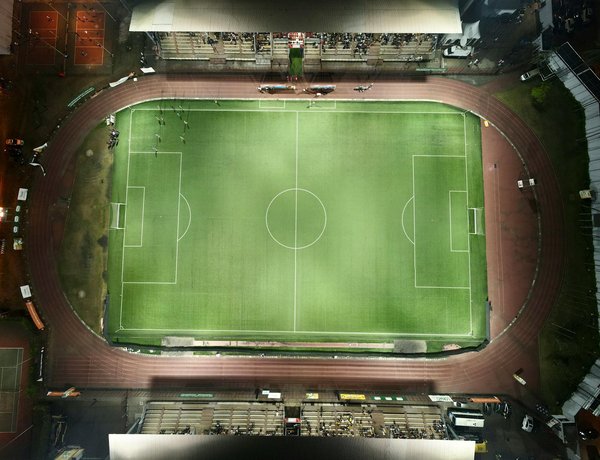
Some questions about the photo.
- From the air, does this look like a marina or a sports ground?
sports ground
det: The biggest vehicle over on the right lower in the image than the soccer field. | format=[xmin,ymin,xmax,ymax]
[452,415,489,429]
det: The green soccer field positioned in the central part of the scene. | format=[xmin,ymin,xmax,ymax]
[106,100,488,355]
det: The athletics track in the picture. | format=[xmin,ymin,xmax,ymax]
[27,74,566,396]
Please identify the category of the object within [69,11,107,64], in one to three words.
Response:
sports court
